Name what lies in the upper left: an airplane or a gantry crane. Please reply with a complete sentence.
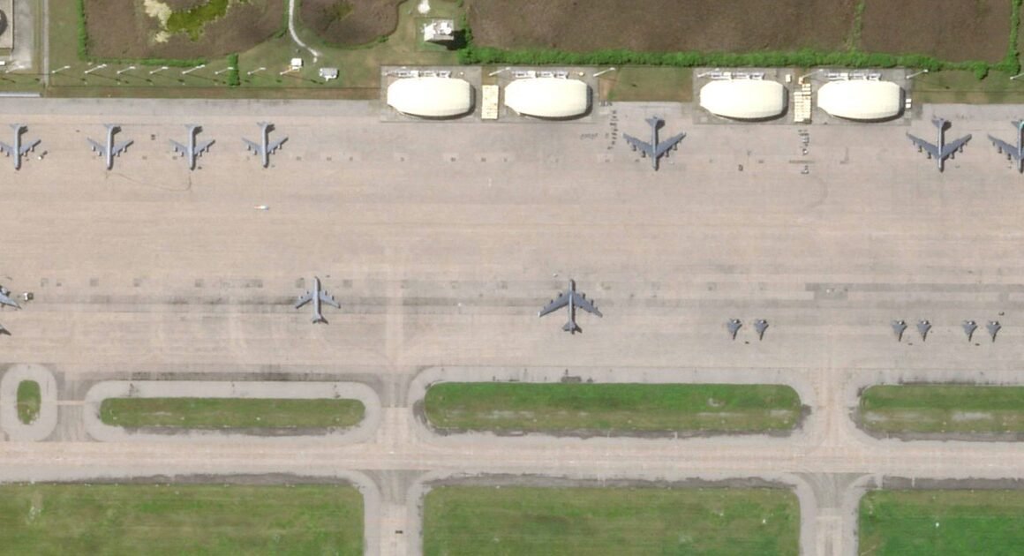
You can see an airplane in the upper left.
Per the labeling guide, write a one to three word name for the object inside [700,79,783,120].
hangar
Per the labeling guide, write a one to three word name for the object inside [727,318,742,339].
airplane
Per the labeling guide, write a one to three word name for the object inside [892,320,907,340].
airplane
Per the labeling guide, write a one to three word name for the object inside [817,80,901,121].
hangar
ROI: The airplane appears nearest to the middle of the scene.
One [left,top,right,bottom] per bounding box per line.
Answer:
[541,279,604,333]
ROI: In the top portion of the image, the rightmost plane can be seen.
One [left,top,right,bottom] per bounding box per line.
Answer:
[990,118,1024,173]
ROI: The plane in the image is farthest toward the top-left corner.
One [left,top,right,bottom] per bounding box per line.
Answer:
[0,122,40,170]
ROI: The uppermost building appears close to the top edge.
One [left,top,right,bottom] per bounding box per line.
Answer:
[424,22,455,42]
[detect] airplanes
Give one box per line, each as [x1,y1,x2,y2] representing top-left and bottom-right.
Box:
[727,318,742,339]
[987,320,1001,341]
[0,122,40,170]
[909,116,972,172]
[962,320,977,341]
[892,320,907,340]
[917,320,932,340]
[295,277,340,323]
[623,114,686,170]
[243,120,288,168]
[754,318,769,339]
[170,122,215,170]
[87,122,132,170]
[990,118,1024,173]
[541,279,604,333]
